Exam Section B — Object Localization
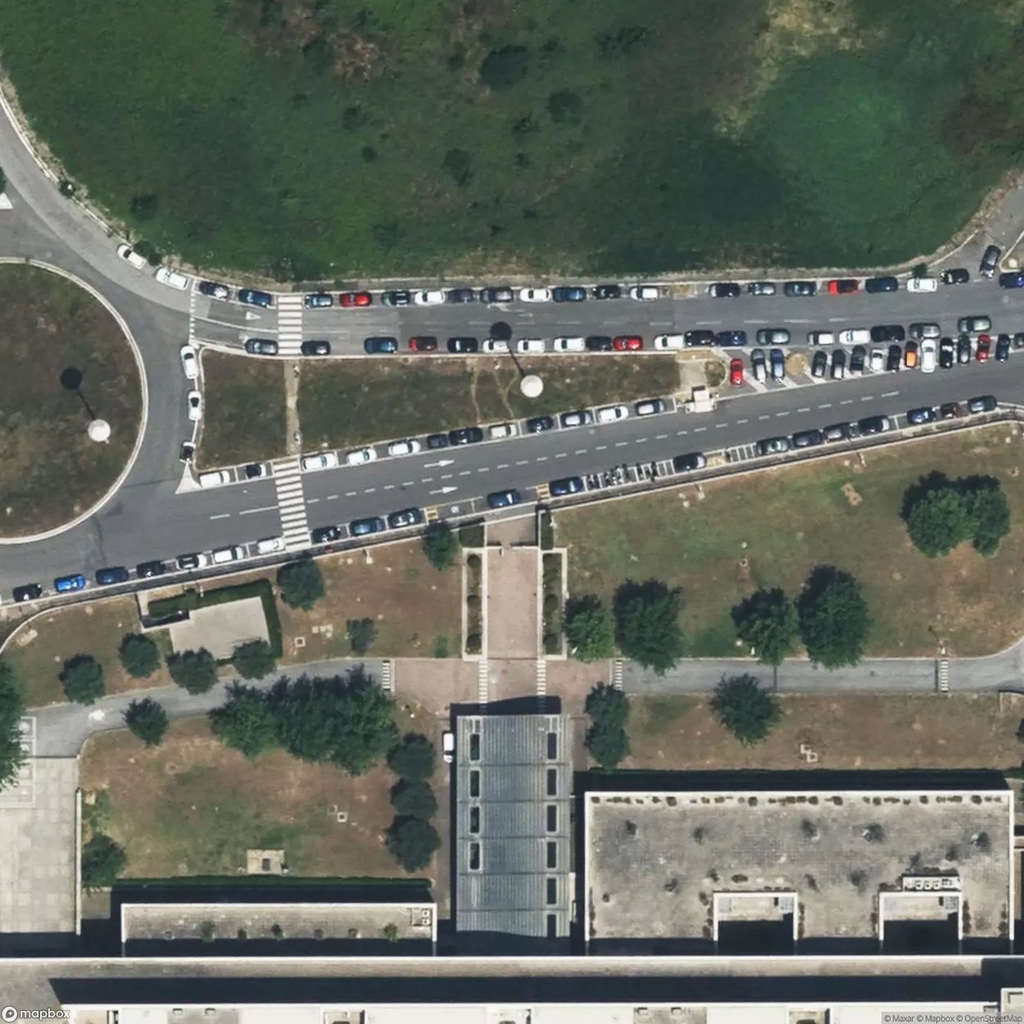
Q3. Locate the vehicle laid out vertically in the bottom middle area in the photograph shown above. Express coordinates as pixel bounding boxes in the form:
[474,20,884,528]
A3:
[441,731,456,762]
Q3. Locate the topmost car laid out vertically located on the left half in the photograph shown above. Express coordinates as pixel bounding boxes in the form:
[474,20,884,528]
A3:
[181,346,198,379]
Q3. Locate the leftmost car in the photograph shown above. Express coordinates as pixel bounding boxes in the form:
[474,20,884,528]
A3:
[13,583,42,600]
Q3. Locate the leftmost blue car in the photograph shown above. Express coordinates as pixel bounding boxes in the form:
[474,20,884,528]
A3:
[53,574,86,592]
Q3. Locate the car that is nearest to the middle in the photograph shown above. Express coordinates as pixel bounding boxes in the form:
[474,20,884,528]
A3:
[487,490,521,508]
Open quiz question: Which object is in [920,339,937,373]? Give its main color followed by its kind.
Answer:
white vehicle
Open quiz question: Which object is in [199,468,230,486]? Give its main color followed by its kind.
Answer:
white vehicle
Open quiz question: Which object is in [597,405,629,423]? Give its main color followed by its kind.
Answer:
white car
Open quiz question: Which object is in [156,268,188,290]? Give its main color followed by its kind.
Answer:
white car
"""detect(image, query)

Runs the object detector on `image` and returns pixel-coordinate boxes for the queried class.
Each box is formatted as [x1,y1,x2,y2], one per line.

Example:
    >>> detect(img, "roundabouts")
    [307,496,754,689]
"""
[0,260,144,542]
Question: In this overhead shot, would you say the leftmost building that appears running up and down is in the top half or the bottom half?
bottom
